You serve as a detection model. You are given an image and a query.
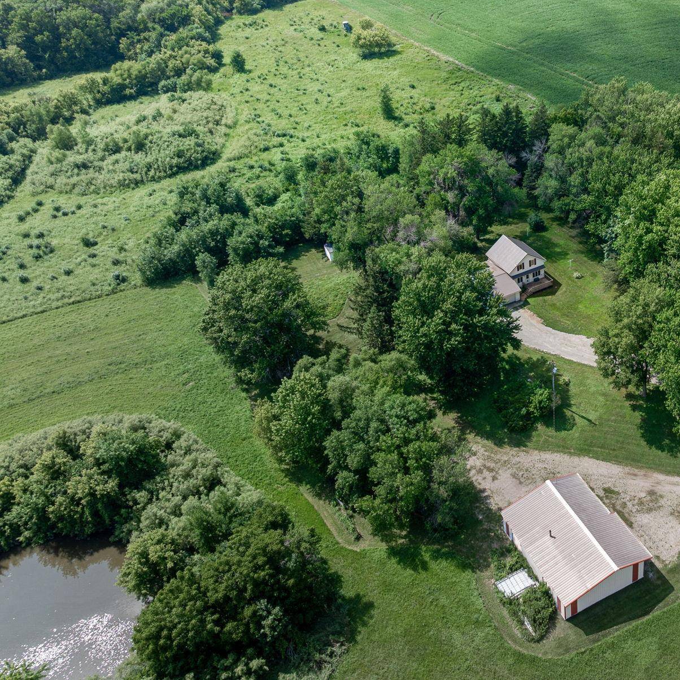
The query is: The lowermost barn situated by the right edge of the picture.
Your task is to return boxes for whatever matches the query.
[499,473,653,621]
